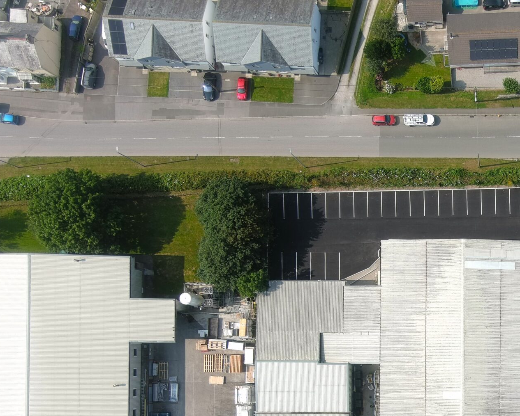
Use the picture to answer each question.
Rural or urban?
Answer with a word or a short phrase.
urban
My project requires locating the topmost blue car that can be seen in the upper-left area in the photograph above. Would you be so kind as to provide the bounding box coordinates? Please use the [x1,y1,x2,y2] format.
[68,14,84,42]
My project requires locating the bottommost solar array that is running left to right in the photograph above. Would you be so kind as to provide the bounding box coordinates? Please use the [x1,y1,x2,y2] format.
[470,38,518,61]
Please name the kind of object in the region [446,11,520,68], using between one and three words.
house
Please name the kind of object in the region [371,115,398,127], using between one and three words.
vehicle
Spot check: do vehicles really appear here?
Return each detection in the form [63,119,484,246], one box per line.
[371,115,398,127]
[0,112,21,125]
[483,0,507,11]
[82,63,98,89]
[99,22,108,51]
[508,0,520,8]
[68,14,84,42]
[202,74,216,102]
[404,113,435,126]
[235,79,249,101]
